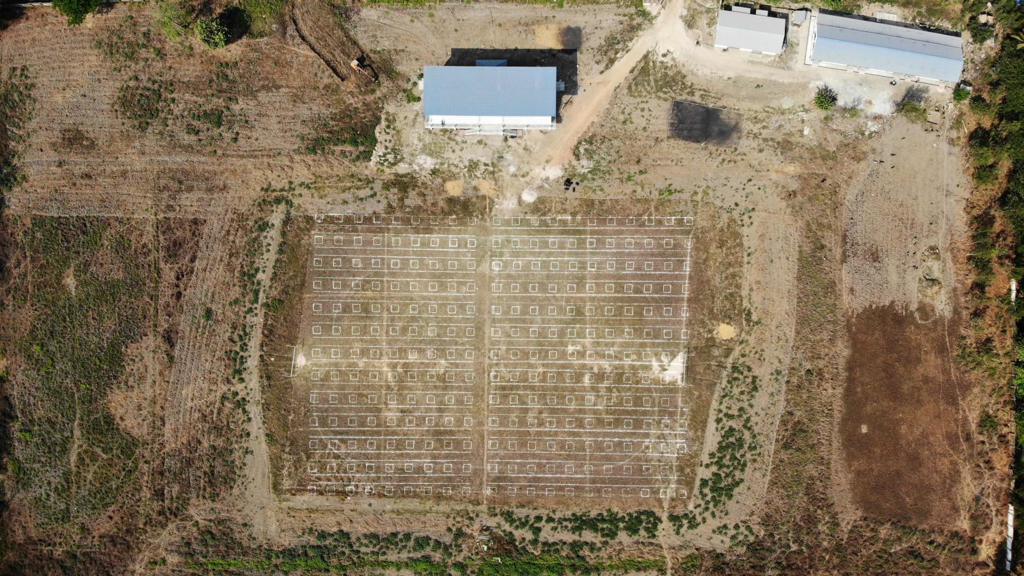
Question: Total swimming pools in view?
none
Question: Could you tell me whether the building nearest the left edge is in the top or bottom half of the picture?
top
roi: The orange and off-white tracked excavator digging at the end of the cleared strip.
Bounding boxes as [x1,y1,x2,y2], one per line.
[350,59,372,80]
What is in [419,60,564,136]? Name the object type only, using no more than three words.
building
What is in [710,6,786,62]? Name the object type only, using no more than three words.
building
